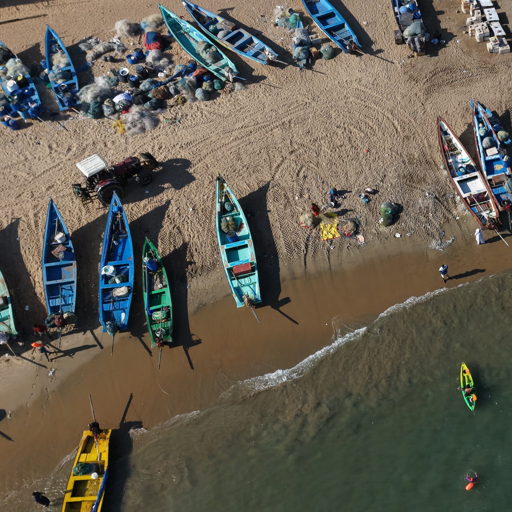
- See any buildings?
No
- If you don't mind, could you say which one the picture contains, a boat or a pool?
boat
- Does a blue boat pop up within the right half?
Yes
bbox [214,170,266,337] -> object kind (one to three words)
boat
